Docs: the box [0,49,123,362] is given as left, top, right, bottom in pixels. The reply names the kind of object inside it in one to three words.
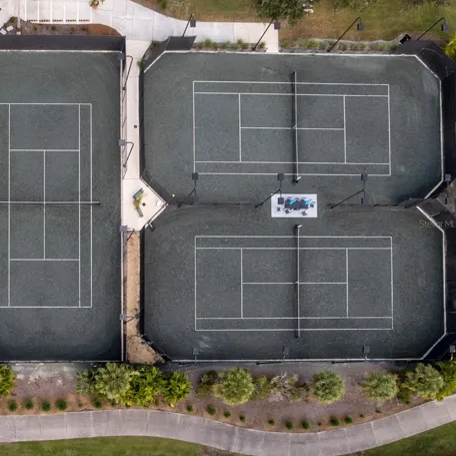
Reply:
tennis court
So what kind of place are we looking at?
sports ground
